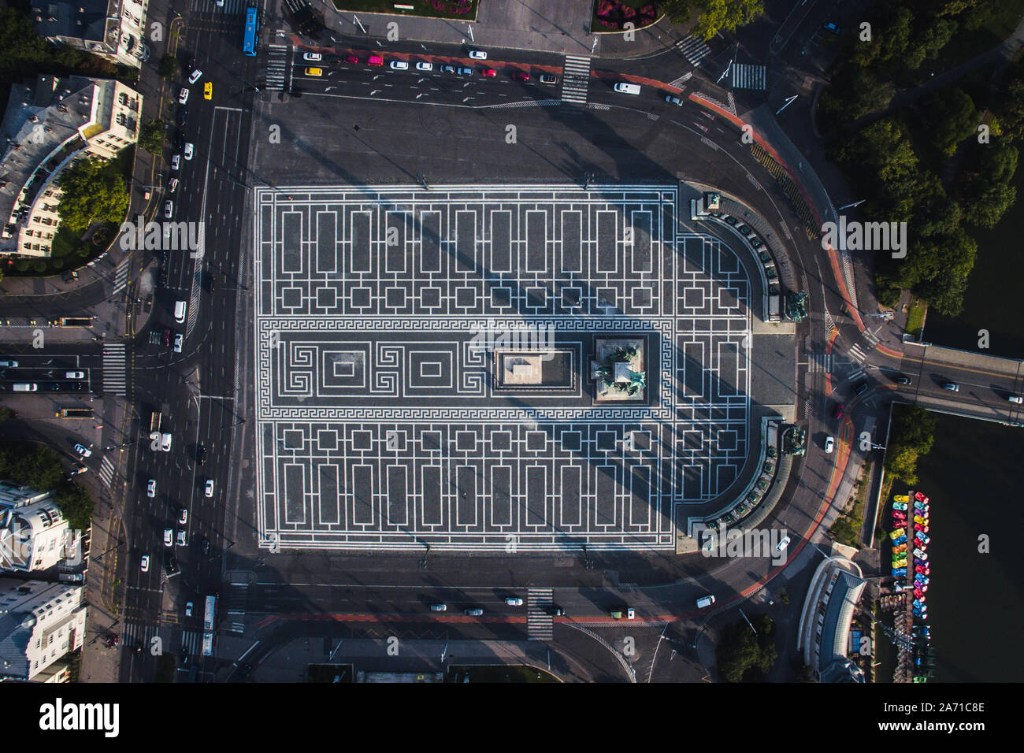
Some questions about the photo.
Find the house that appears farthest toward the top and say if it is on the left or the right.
left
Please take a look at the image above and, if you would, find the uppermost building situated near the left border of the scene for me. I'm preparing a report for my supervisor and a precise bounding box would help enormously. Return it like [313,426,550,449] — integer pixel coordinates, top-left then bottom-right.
[31,0,151,67]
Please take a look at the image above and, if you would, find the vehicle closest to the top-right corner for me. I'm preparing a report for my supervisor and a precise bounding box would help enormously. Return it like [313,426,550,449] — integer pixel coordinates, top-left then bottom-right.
[822,22,841,36]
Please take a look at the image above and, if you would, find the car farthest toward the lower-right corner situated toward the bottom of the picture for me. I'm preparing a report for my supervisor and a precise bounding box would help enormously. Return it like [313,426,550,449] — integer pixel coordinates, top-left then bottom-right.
[774,534,791,553]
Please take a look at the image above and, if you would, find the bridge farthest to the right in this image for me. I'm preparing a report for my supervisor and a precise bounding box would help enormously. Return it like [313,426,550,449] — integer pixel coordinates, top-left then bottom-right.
[912,342,1024,428]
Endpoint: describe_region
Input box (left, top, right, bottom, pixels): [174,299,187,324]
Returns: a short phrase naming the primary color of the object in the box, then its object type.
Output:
white vehicle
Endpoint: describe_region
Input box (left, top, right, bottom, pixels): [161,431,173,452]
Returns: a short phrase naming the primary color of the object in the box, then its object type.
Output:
white vehicle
